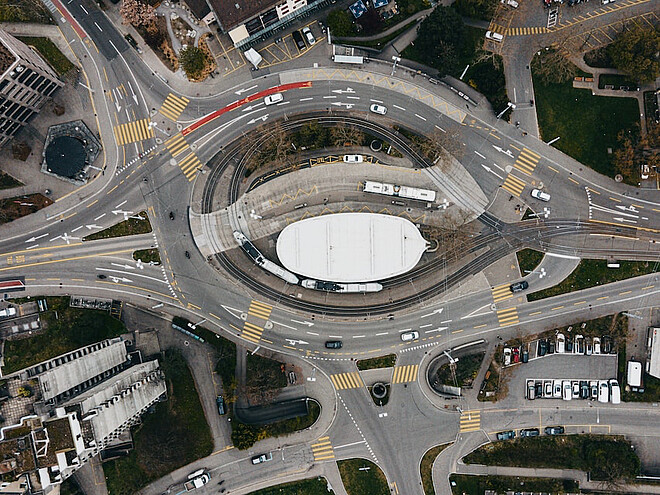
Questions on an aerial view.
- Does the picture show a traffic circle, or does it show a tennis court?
traffic circle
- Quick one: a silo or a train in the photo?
train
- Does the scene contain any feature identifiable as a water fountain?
Yes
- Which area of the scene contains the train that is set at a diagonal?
center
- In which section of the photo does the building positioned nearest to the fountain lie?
top left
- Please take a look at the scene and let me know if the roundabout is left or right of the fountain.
on the right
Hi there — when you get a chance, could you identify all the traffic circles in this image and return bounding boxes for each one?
[118,81,590,359]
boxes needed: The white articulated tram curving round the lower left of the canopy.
[229,231,298,285]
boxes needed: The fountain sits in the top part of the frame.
[39,119,102,184]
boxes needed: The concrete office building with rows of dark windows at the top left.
[0,15,64,151]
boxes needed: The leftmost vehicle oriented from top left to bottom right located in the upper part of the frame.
[124,34,141,53]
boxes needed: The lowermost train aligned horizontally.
[300,279,385,293]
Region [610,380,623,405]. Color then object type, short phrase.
white vehicle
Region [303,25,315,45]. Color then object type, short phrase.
white vehicle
